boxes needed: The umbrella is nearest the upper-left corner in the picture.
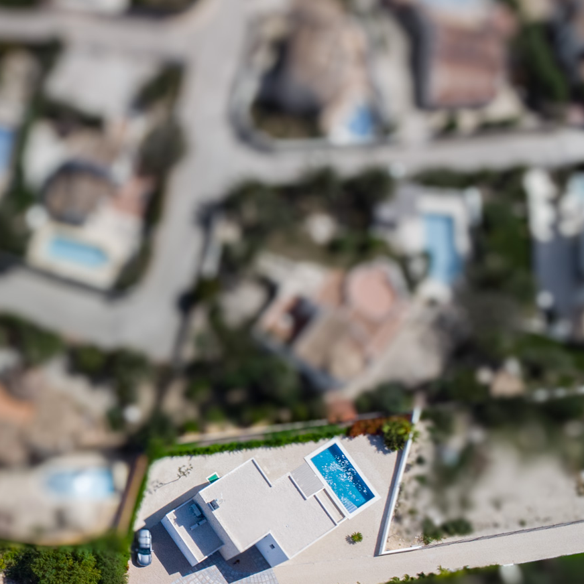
[26,208,49,229]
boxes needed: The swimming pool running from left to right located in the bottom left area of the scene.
[40,463,123,501]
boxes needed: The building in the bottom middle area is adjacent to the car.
[162,459,337,567]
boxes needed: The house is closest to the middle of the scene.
[266,267,402,386]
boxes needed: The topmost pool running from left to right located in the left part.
[47,233,110,270]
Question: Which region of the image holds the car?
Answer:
bottom left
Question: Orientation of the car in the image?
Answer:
vertically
